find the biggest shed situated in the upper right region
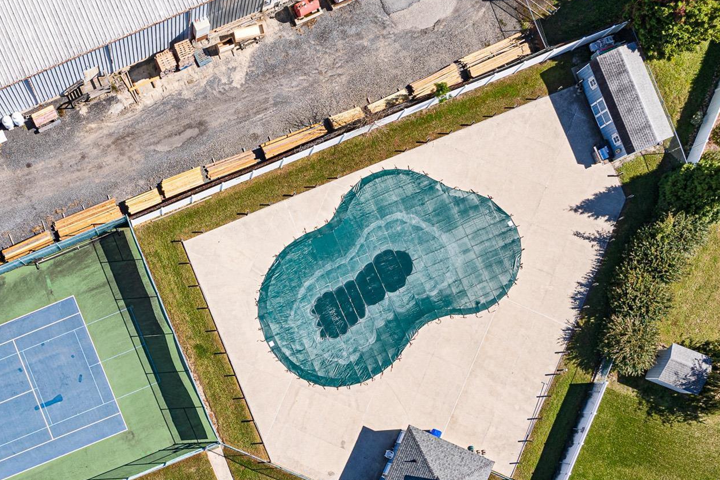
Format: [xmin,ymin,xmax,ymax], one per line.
[574,40,678,161]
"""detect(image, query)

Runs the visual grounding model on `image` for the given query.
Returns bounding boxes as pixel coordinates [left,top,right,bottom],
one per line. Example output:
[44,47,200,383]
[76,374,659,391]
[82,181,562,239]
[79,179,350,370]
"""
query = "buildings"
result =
[0,0,264,122]
[574,40,678,161]
[381,425,496,480]
[647,343,712,395]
